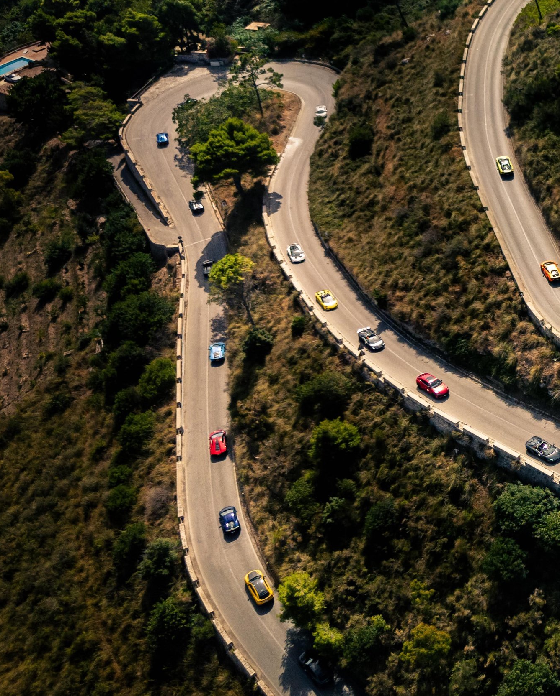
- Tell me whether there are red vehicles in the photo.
Yes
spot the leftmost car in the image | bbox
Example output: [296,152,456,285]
[156,134,170,146]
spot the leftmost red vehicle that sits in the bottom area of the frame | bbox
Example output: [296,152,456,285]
[209,433,227,458]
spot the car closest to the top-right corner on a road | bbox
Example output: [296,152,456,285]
[496,158,514,177]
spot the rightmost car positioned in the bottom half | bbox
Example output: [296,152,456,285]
[523,436,560,464]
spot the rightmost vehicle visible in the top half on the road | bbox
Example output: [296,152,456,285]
[541,261,560,284]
